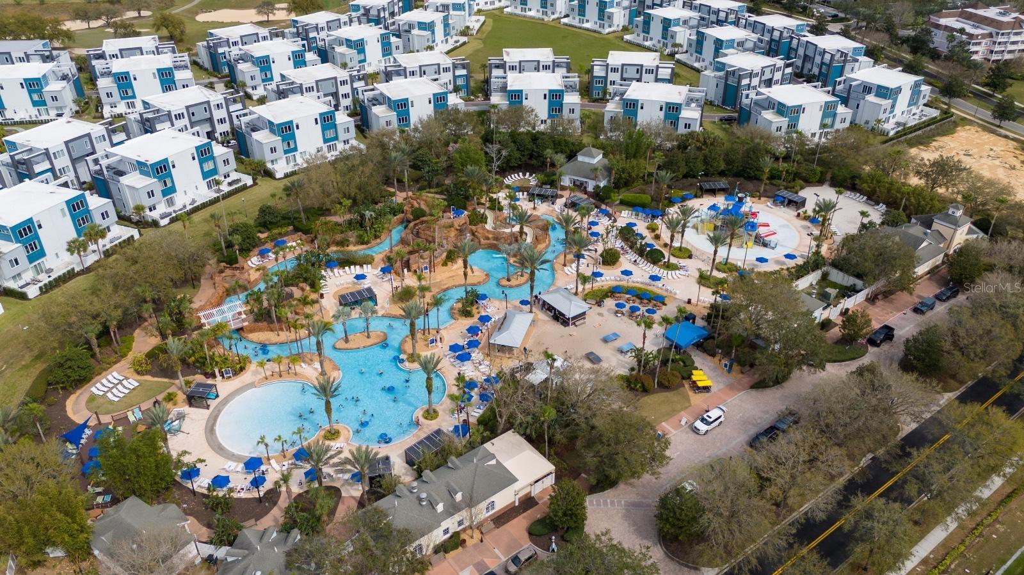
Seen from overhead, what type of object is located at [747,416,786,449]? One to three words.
car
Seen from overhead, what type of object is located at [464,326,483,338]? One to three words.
umbrella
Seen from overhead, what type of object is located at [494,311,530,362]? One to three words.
building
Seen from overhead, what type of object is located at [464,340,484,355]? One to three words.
umbrella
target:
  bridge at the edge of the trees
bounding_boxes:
[191,297,255,339]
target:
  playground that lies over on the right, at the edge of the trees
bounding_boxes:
[695,184,781,254]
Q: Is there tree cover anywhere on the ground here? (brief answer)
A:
Yes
